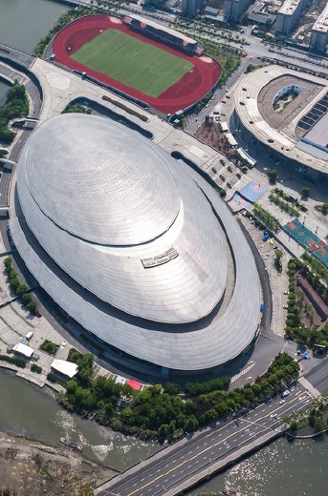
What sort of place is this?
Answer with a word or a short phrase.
sports ground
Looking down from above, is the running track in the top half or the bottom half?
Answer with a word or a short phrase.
top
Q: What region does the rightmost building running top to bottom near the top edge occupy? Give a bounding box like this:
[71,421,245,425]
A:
[308,1,328,50]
